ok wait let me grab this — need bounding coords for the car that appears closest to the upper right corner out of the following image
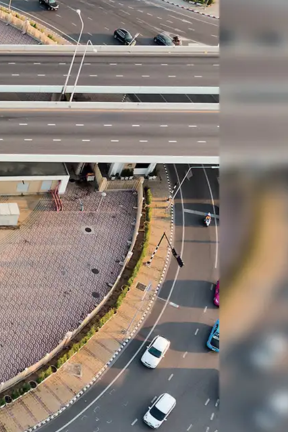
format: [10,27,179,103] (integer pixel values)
[152,34,177,46]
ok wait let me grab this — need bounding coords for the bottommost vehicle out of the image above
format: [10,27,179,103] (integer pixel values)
[145,393,177,427]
